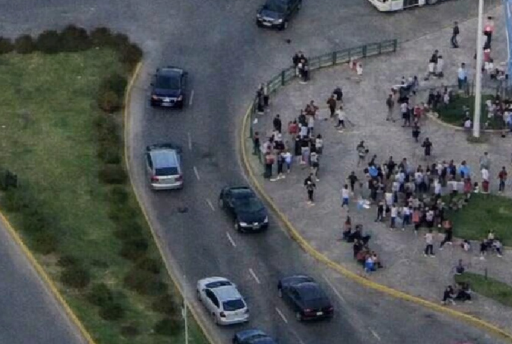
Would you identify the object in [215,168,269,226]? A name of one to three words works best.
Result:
car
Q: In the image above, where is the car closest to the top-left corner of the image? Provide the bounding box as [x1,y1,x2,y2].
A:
[153,61,189,102]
